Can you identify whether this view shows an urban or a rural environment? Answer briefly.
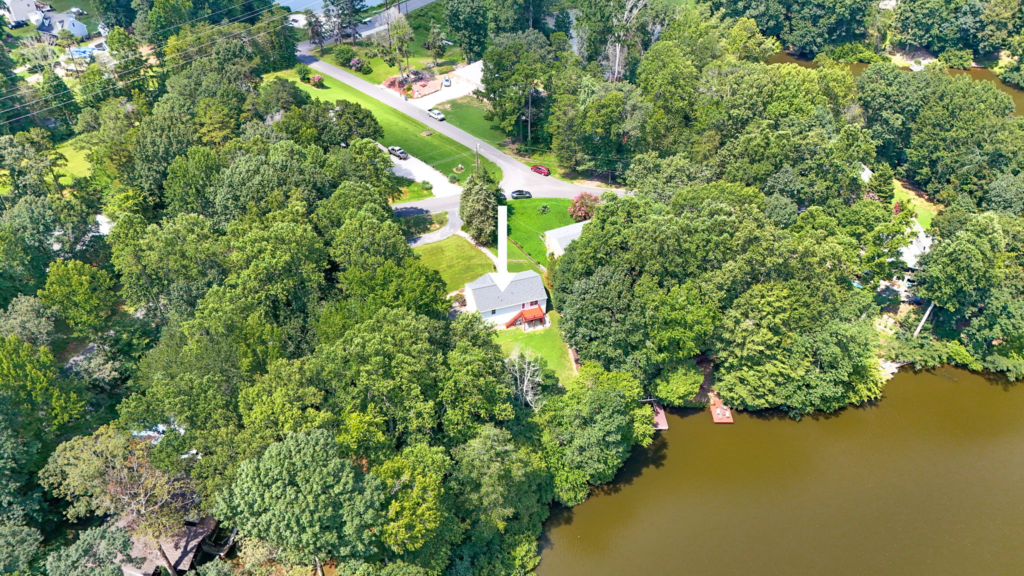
rural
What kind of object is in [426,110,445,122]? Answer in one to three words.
vehicle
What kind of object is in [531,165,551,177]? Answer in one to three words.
vehicle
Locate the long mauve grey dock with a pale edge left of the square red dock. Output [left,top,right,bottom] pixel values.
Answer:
[650,403,668,431]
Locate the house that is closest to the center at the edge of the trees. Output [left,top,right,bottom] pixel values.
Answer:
[468,266,547,323]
